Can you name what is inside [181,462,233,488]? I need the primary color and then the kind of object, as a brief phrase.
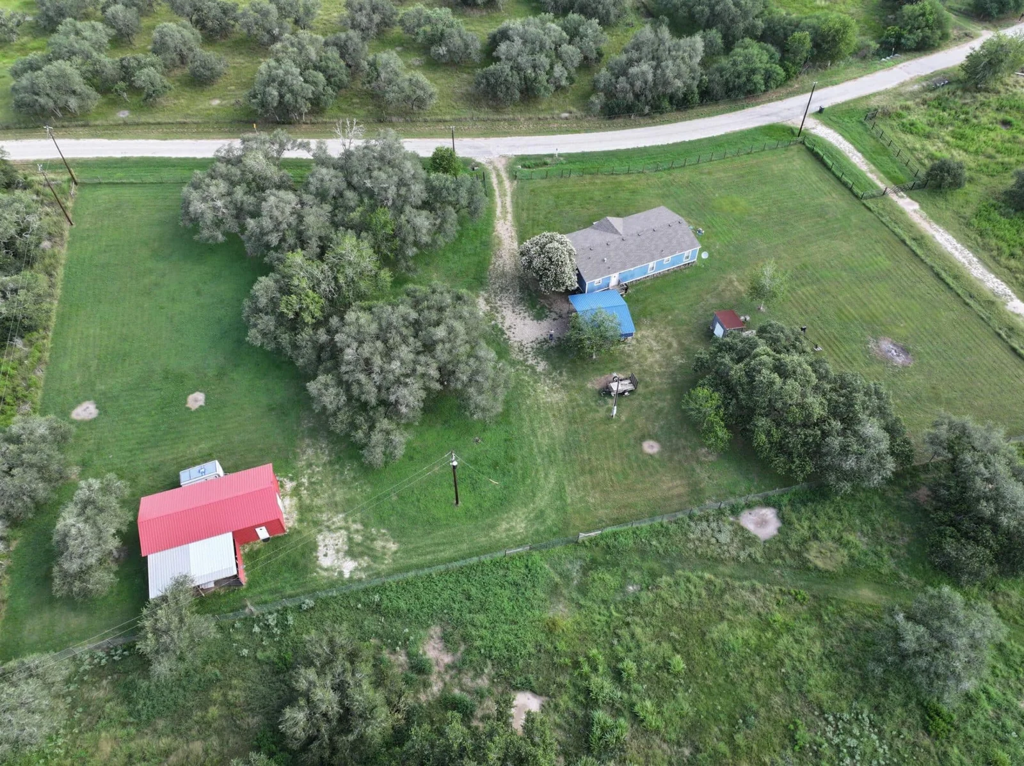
white trailer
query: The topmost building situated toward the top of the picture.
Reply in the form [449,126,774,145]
[559,208,702,294]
